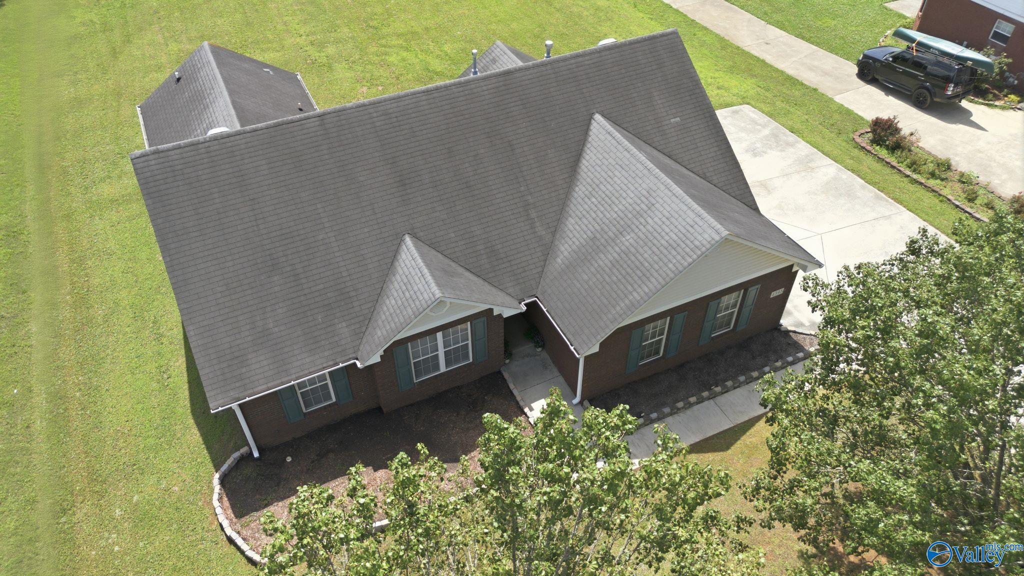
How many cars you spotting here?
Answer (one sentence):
Only 1 car is visible.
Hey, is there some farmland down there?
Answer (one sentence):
No, the scene doesn't show any farmland.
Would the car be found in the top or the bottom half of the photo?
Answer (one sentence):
The top half of the photo is where the car is.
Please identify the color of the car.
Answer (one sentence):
The car is black.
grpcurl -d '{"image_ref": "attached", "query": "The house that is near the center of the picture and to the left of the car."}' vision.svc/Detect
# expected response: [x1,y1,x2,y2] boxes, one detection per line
[132,30,823,461]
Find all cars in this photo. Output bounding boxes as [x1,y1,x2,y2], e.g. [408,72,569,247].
[858,43,981,109]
